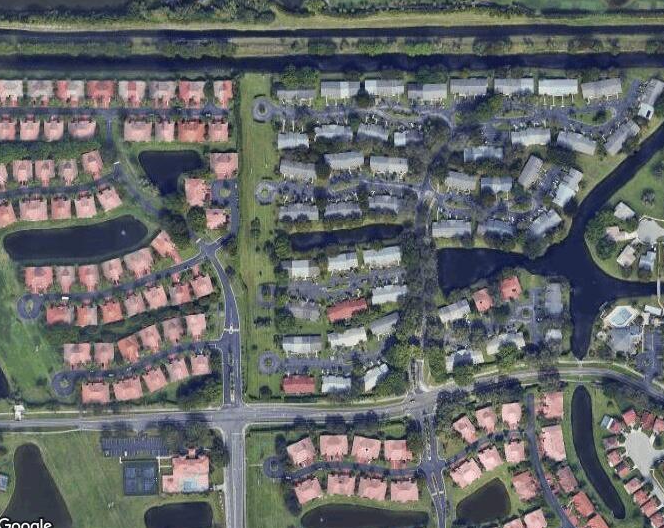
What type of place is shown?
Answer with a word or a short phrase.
residential area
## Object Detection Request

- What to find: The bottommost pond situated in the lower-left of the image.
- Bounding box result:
[145,502,212,528]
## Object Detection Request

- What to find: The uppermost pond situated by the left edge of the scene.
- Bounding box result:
[4,215,147,263]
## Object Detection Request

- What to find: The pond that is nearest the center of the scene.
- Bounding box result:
[291,223,402,251]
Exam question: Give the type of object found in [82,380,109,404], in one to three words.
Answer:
house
